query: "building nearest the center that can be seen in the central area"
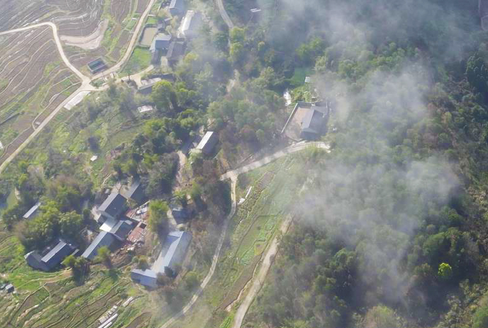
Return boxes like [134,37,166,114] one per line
[195,133,221,162]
